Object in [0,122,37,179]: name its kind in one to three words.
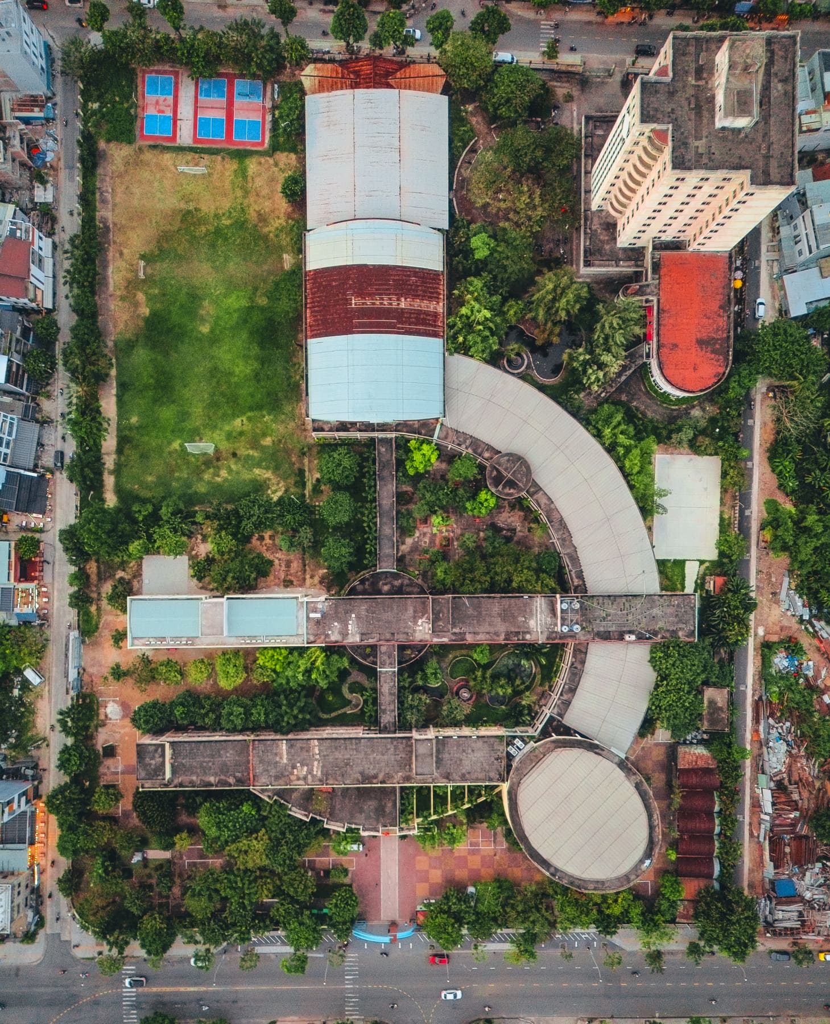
house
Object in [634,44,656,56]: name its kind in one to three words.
vehicle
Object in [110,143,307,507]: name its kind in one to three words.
sports field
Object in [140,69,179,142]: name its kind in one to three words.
sports court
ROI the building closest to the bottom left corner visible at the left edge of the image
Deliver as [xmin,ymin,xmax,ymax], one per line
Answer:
[0,867,34,934]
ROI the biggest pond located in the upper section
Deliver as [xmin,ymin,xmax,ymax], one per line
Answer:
[506,324,585,382]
